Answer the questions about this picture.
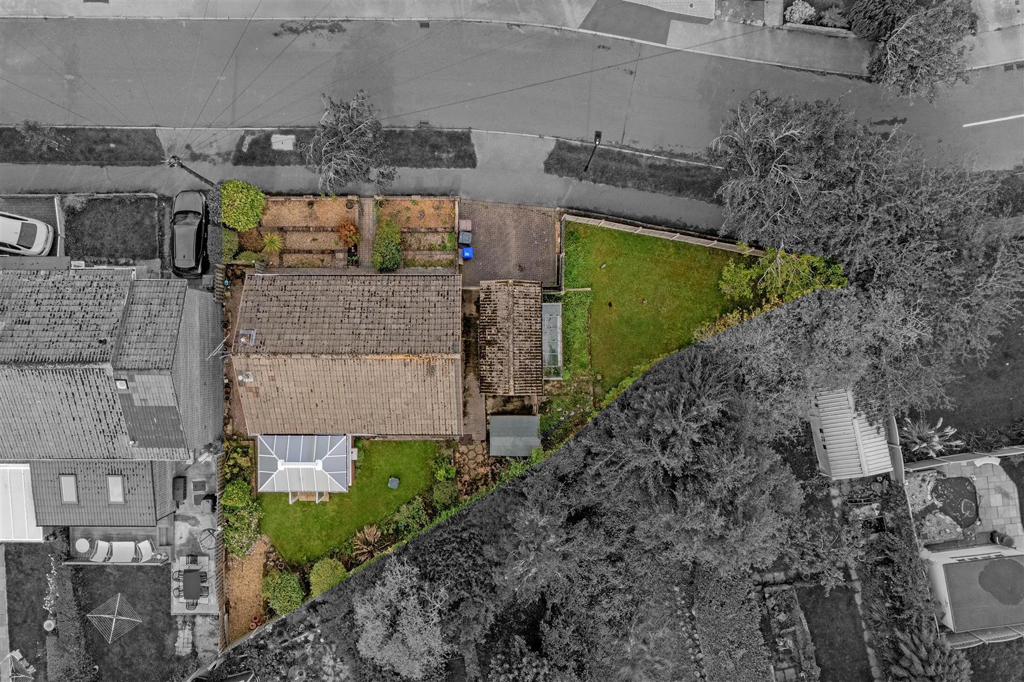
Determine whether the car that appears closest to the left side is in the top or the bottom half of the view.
top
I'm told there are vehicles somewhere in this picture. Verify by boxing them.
[0,212,58,257]
[167,190,213,278]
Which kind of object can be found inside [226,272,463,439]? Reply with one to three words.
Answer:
house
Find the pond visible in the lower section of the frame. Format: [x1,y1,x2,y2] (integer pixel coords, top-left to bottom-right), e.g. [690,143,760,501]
[931,476,977,528]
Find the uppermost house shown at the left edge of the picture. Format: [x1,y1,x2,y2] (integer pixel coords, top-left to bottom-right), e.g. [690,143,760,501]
[0,257,218,460]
